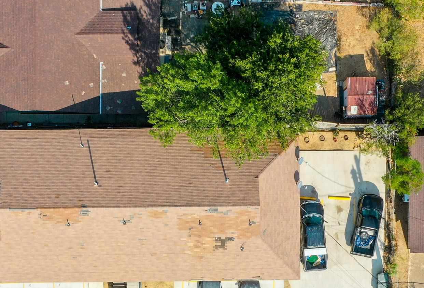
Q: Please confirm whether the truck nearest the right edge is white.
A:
No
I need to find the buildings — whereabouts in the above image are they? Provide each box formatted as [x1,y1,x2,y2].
[343,77,377,118]
[0,0,161,114]
[0,129,325,283]
[401,135,424,253]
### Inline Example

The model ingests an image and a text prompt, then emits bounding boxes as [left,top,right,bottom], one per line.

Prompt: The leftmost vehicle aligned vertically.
[300,200,329,265]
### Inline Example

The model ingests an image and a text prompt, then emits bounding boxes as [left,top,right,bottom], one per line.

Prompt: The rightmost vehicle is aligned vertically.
[349,192,384,259]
